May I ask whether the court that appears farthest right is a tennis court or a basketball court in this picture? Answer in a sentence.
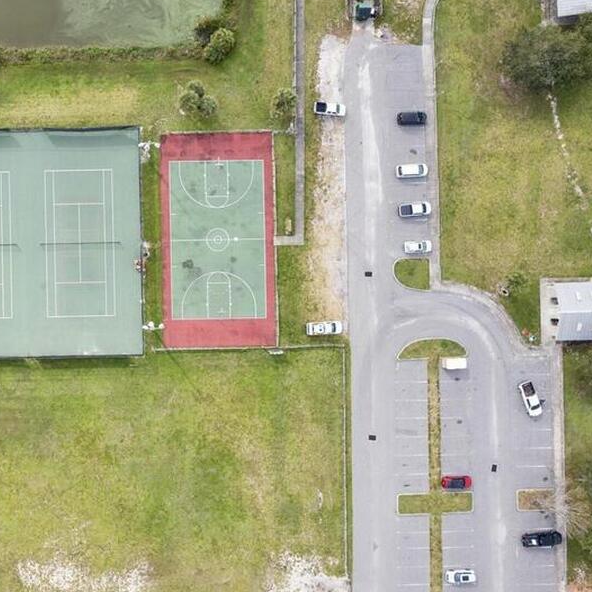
Specifically, the court that appears farthest right is a basketball court.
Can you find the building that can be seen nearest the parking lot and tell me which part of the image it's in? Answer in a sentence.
The building that can be seen nearest the parking lot is in the right part of the image.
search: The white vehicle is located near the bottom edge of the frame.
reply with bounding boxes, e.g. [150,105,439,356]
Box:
[445,569,475,584]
